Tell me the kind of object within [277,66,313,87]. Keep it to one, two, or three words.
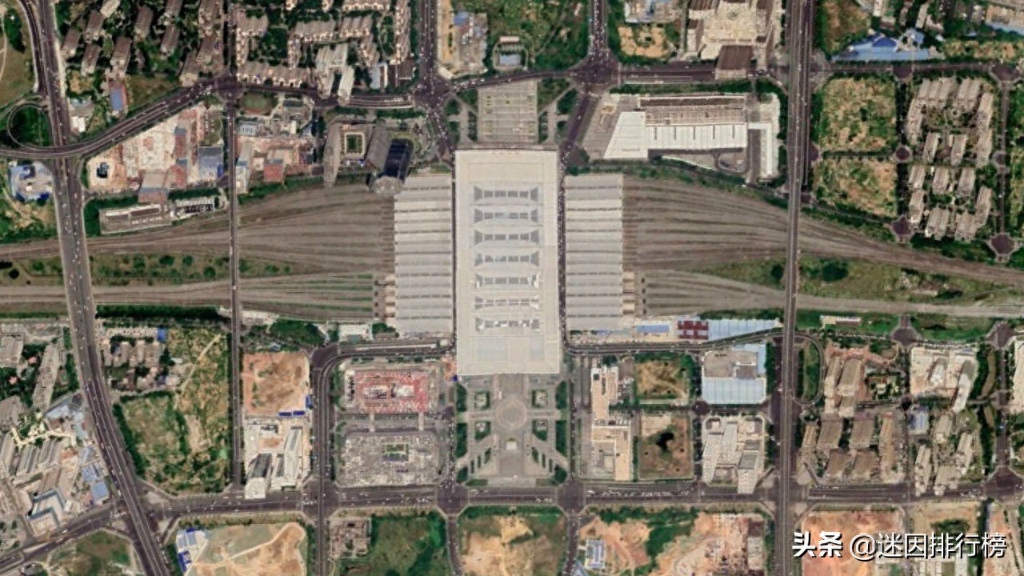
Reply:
building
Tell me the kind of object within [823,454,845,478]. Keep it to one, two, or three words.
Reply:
building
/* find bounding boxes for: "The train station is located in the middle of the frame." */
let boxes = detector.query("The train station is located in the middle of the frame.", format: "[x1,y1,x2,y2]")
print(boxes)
[376,150,645,374]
